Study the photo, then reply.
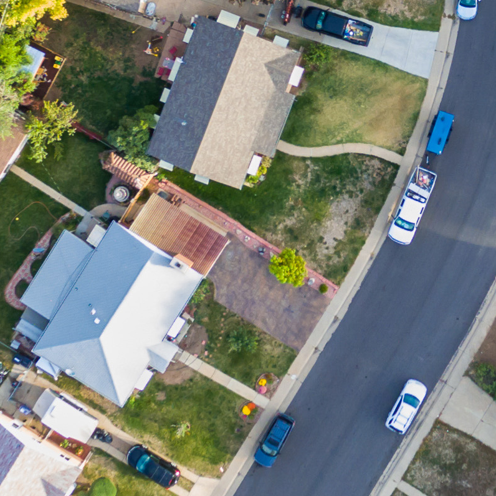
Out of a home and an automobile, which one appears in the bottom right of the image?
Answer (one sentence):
There is an automobile in the bottom right of the image.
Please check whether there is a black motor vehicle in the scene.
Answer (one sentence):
Yes, there is a black motor vehicle in the image.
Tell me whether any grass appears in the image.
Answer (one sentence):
Yes, there is grass in the image.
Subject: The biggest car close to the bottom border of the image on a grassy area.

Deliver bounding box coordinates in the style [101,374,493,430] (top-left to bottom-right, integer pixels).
[125,445,183,492]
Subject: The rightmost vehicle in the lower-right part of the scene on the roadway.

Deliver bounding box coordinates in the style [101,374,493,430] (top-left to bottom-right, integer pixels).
[385,372,425,436]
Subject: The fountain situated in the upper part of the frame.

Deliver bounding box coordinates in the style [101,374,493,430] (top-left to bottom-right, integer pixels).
[115,186,130,202]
